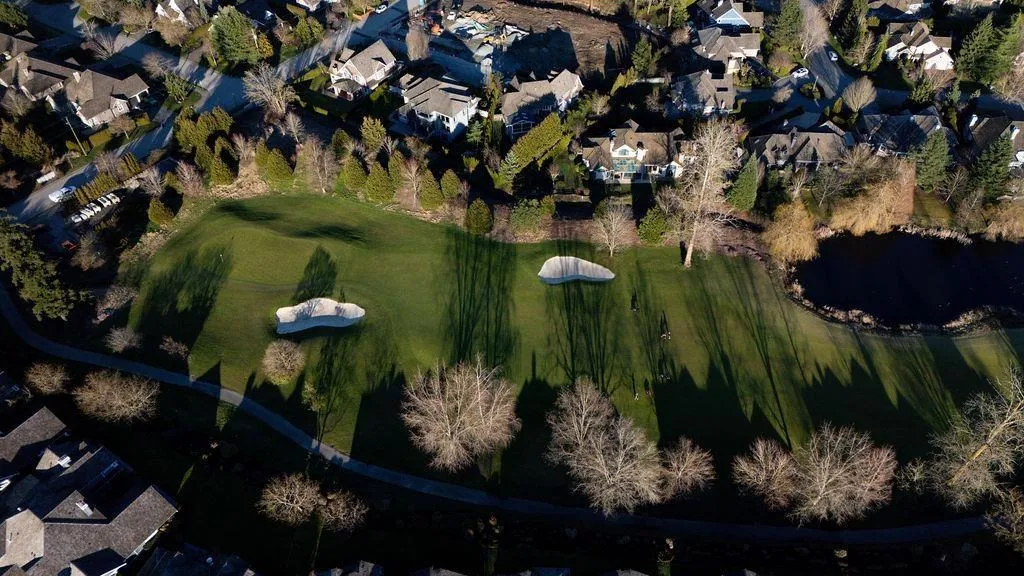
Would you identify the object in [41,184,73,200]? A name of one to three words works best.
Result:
vehicle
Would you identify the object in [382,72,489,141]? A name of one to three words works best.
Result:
house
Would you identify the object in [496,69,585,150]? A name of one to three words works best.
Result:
house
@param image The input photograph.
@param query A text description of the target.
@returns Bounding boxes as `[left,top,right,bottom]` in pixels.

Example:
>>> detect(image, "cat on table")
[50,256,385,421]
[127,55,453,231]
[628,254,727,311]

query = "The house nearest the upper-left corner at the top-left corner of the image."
[0,28,61,77]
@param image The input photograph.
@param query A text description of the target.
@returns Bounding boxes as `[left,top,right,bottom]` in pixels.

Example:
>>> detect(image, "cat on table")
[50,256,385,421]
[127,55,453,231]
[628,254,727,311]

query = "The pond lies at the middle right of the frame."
[798,233,1024,329]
